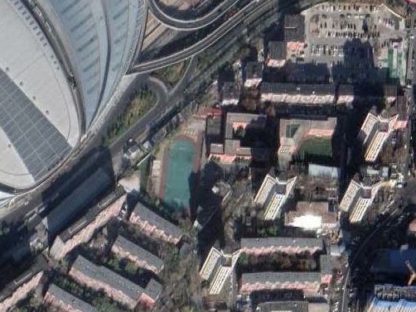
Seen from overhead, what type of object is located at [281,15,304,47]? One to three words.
building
